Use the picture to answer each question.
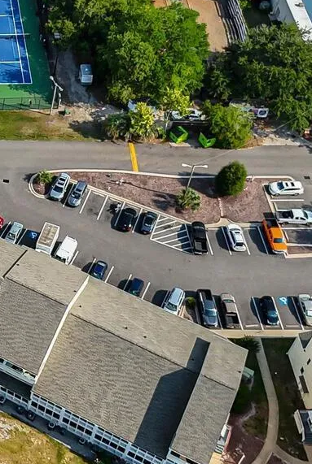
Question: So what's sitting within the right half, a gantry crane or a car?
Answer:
car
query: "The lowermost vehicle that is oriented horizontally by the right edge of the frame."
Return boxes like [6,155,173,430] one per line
[276,209,312,225]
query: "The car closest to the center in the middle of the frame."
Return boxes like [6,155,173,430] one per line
[139,211,157,235]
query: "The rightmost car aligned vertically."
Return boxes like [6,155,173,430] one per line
[298,295,312,326]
